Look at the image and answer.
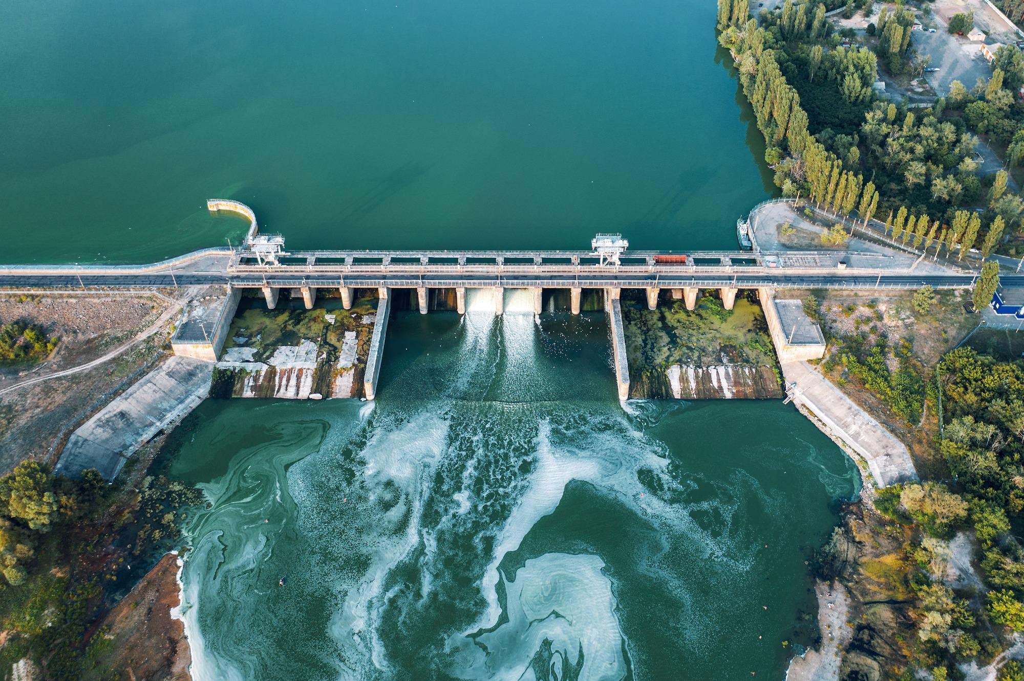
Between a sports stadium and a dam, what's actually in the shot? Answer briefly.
dam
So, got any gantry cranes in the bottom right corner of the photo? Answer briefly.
No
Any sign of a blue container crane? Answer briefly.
No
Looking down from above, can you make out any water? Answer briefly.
Yes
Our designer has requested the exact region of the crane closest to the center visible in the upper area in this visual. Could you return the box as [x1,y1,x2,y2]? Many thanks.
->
[594,230,630,265]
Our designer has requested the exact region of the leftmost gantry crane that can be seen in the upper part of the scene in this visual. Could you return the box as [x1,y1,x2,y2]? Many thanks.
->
[249,230,287,265]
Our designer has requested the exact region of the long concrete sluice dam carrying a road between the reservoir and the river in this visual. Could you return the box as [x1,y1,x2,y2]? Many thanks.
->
[224,247,880,314]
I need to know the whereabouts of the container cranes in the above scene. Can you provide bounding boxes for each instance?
[249,230,287,265]
[594,230,630,265]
